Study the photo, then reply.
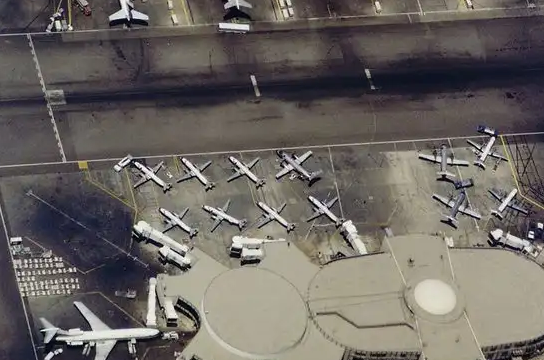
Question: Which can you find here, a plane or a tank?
plane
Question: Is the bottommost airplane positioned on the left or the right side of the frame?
left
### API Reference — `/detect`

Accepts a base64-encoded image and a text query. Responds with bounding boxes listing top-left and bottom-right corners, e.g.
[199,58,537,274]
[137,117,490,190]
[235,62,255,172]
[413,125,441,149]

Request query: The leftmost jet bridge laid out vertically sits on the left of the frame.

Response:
[142,274,158,328]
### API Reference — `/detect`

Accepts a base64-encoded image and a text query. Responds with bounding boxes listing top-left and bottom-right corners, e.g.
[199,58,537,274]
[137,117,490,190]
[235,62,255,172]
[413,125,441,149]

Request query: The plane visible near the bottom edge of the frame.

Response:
[42,301,161,360]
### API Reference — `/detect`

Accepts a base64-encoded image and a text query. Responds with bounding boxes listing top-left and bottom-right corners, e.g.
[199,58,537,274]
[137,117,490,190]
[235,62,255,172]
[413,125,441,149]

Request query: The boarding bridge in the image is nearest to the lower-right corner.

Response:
[489,230,541,261]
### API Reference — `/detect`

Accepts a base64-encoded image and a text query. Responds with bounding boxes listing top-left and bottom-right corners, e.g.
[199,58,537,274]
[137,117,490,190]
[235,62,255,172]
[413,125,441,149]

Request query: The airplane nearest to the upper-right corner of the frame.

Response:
[467,137,508,166]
